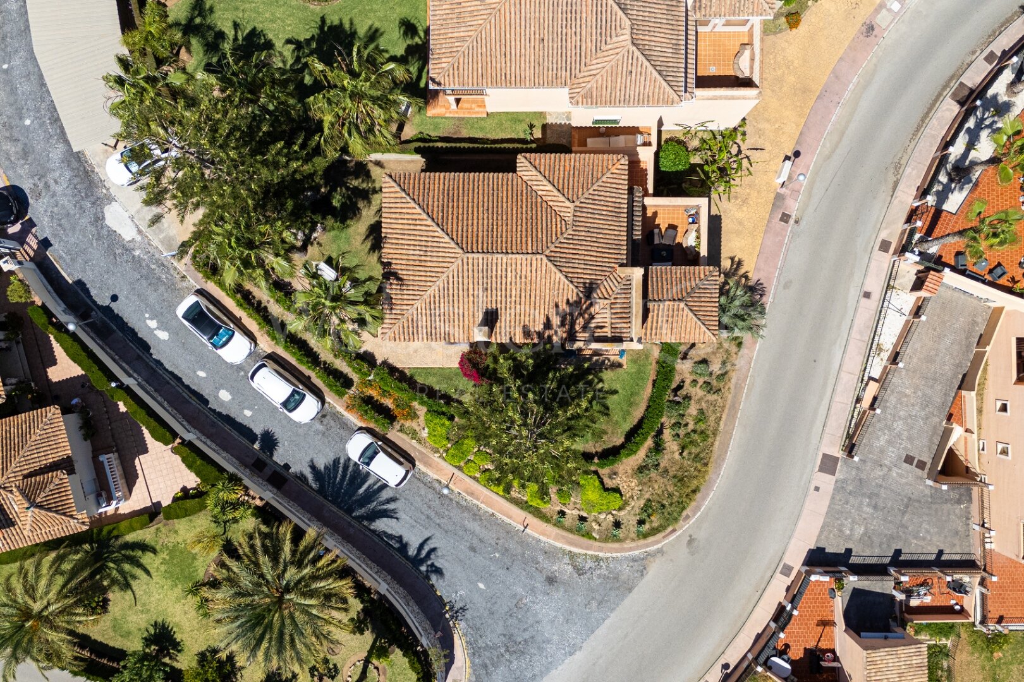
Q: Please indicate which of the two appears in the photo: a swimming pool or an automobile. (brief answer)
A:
automobile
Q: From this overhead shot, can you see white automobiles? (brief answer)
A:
Yes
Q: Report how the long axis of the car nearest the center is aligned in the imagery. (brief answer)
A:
on a diagonal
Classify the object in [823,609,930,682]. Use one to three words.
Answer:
building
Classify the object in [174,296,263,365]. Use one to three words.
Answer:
car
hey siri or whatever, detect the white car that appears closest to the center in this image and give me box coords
[344,427,418,491]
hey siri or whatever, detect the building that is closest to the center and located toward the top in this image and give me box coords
[379,150,722,355]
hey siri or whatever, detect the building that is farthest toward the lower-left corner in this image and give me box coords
[0,404,137,550]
